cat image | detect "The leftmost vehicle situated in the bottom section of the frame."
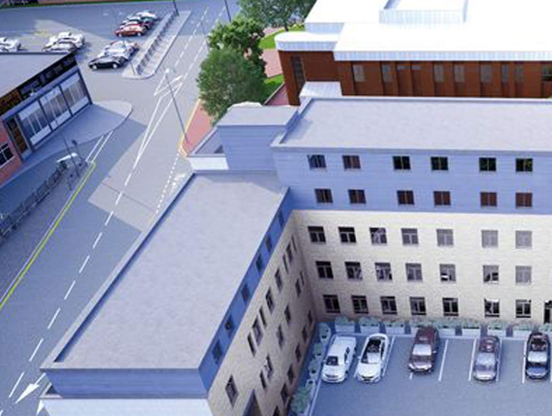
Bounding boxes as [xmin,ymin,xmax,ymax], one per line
[320,325,357,380]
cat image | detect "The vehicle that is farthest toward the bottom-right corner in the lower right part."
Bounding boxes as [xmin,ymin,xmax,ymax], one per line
[522,329,552,379]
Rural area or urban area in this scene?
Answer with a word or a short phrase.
urban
